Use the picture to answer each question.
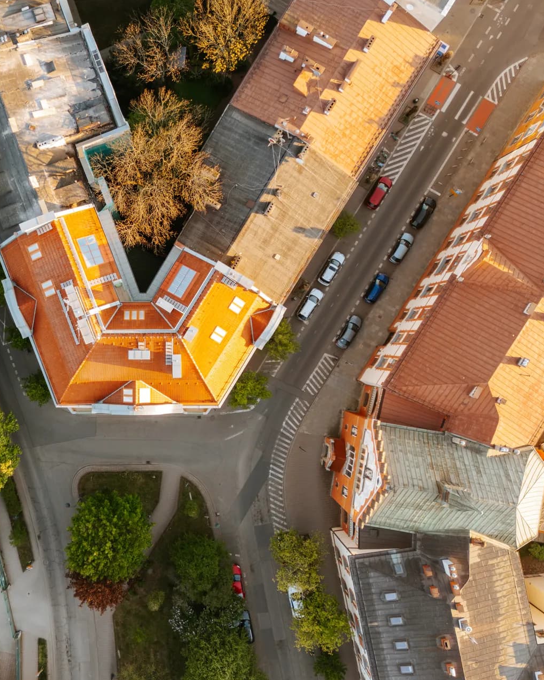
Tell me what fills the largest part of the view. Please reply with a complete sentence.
The bulk of the photo consists of buildings.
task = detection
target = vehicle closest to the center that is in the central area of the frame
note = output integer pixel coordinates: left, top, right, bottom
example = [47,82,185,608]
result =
[294,286,326,324]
